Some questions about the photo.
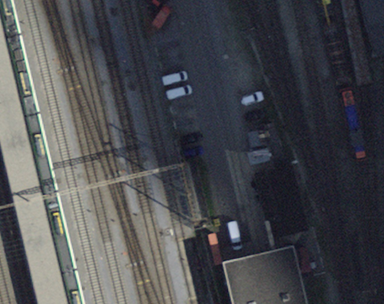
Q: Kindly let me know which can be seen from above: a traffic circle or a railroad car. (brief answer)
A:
railroad car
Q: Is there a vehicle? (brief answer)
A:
Yes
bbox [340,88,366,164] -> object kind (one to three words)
rail car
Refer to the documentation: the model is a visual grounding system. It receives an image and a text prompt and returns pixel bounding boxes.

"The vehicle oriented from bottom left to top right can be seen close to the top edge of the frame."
[152,6,170,30]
